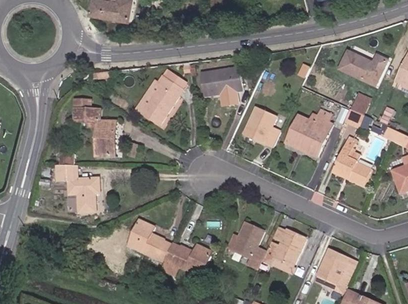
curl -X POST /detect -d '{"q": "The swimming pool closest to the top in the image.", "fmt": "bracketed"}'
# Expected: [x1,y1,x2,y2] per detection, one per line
[358,130,388,168]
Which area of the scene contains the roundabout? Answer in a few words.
top left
